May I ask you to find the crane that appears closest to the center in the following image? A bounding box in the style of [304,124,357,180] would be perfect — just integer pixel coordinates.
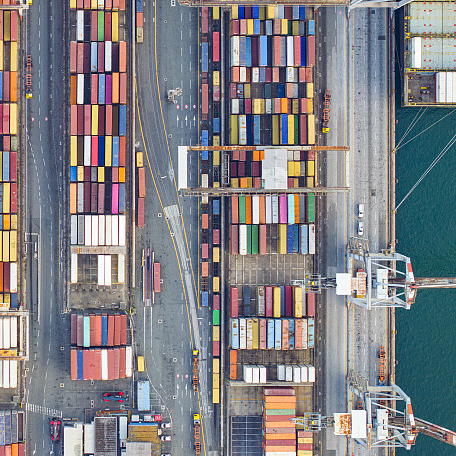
[177,140,349,201]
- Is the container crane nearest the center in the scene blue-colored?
No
